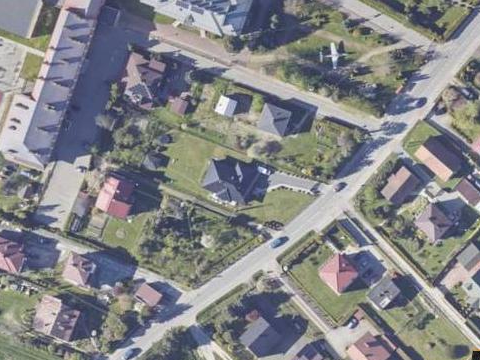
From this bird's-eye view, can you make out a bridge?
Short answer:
No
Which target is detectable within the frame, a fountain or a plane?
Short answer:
plane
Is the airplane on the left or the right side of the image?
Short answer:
right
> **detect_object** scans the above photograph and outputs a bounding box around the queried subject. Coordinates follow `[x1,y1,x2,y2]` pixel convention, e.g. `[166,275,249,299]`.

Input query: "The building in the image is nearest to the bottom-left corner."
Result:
[34,294,80,341]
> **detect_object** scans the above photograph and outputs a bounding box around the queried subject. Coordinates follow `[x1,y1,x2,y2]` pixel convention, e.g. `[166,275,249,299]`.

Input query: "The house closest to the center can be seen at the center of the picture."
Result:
[203,159,257,205]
